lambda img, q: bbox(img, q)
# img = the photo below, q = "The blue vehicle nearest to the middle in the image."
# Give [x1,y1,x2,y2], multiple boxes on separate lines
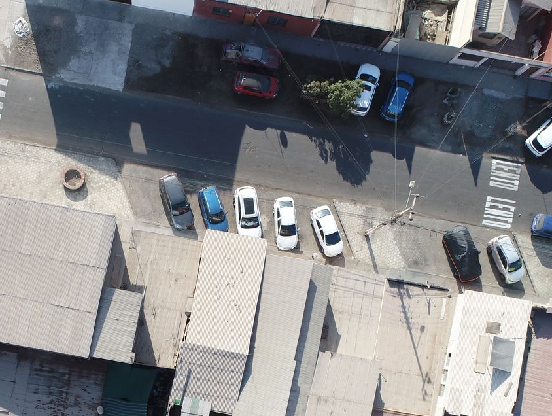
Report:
[196,185,229,232]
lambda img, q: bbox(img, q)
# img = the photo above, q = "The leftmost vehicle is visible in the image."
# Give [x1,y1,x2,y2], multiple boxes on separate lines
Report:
[157,172,193,231]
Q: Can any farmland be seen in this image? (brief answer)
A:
No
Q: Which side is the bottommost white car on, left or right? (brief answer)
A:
right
